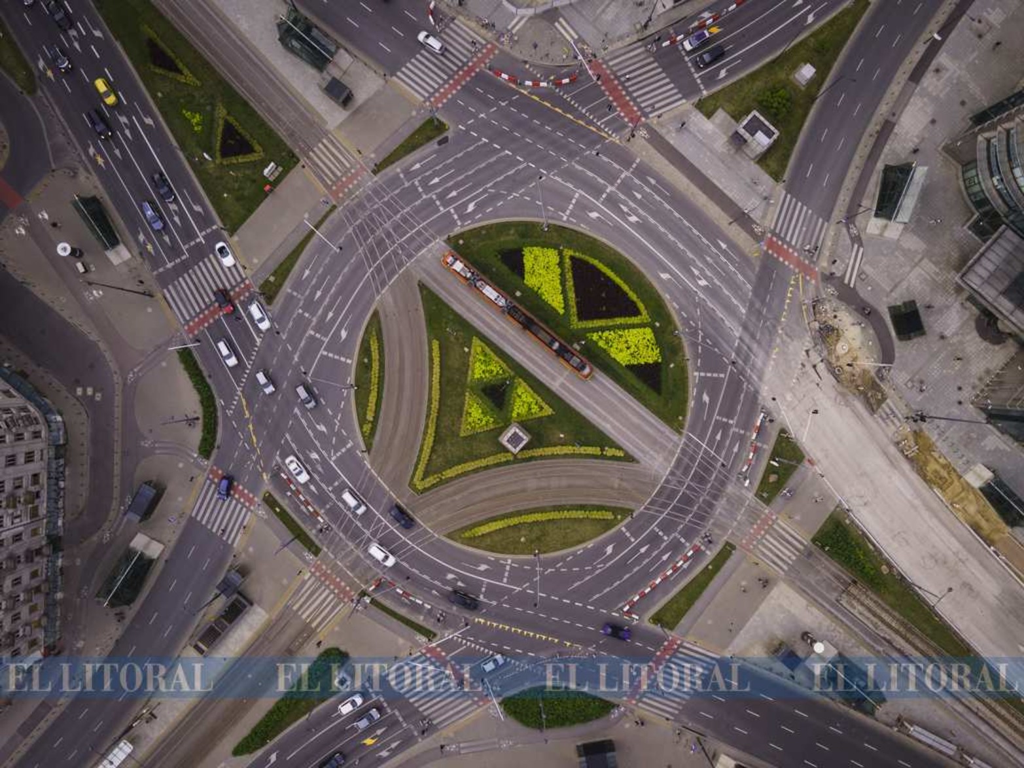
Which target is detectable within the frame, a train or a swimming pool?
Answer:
train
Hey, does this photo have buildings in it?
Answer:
Yes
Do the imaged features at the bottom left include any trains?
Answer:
No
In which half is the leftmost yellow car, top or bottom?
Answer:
top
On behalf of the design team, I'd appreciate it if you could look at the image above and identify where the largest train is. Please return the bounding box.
[441,252,594,378]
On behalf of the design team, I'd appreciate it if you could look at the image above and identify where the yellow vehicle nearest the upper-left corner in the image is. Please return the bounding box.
[92,75,116,106]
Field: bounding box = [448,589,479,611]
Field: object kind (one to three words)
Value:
car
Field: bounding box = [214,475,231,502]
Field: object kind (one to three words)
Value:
car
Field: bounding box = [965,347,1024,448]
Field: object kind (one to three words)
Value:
building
